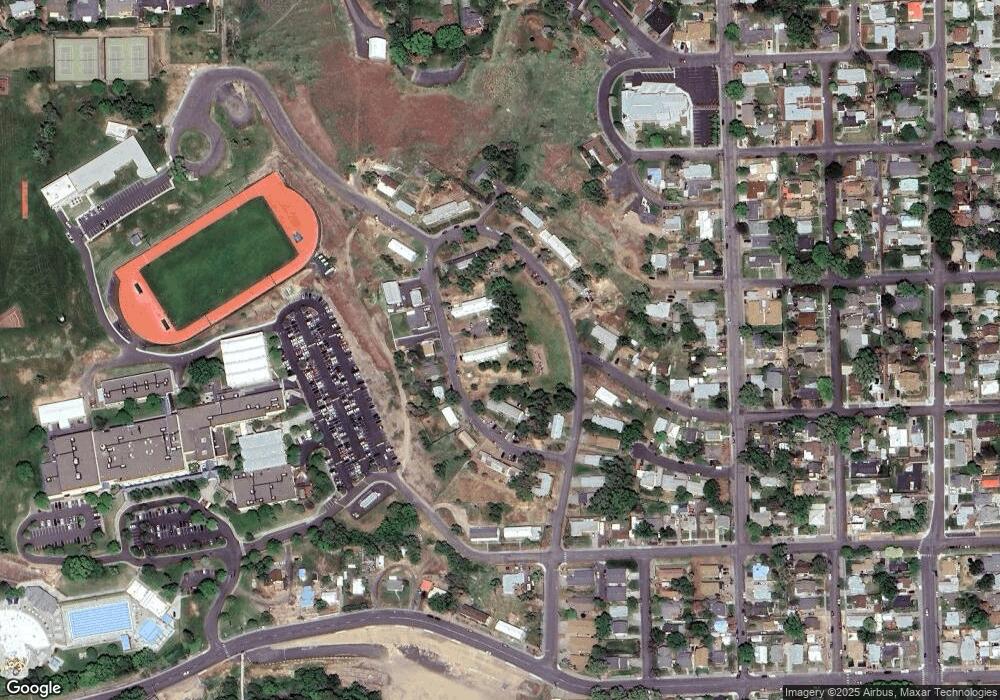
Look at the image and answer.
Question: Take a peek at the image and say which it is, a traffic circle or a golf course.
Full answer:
The one in the frame is a traffic circle.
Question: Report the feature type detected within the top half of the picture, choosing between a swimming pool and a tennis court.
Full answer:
The one visible within the top half of the picture is a tennis court.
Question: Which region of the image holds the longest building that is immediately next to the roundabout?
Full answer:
The longest building that is immediately next to the roundabout is in the top left part of the image.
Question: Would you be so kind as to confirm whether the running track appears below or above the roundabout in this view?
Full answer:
Within the scene, the running track can be found below the roundabout.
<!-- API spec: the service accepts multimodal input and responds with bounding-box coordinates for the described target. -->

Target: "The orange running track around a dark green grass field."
[116,173,319,345]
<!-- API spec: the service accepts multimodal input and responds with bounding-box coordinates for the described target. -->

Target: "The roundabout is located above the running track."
[166,117,222,173]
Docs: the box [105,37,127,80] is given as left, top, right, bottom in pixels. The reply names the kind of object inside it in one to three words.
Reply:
tennis court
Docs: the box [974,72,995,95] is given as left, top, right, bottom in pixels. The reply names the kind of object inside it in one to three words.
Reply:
house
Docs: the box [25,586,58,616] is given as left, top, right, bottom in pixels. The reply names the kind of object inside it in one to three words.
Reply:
building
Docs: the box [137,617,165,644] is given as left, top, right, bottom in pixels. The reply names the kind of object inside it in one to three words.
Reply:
swimming pool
